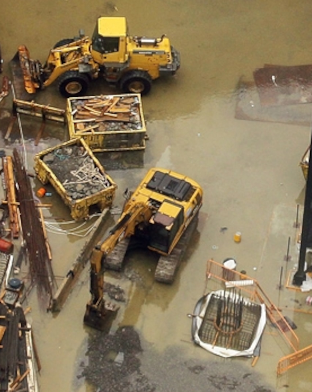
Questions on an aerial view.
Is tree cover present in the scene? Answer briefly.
No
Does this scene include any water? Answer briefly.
Yes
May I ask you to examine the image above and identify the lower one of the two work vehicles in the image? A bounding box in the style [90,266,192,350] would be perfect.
[79,170,201,325]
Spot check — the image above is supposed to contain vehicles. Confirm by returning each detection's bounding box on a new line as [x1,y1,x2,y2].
[79,170,201,325]
[8,23,179,103]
